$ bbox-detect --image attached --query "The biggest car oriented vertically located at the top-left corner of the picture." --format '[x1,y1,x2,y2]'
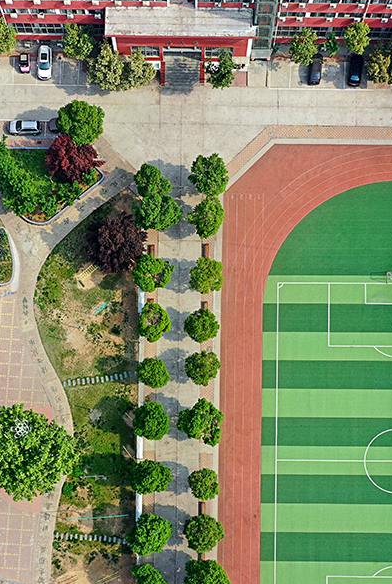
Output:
[36,46,52,82]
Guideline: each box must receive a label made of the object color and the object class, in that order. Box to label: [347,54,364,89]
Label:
black car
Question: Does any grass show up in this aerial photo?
Yes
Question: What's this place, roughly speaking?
sports ground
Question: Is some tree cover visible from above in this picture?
Yes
